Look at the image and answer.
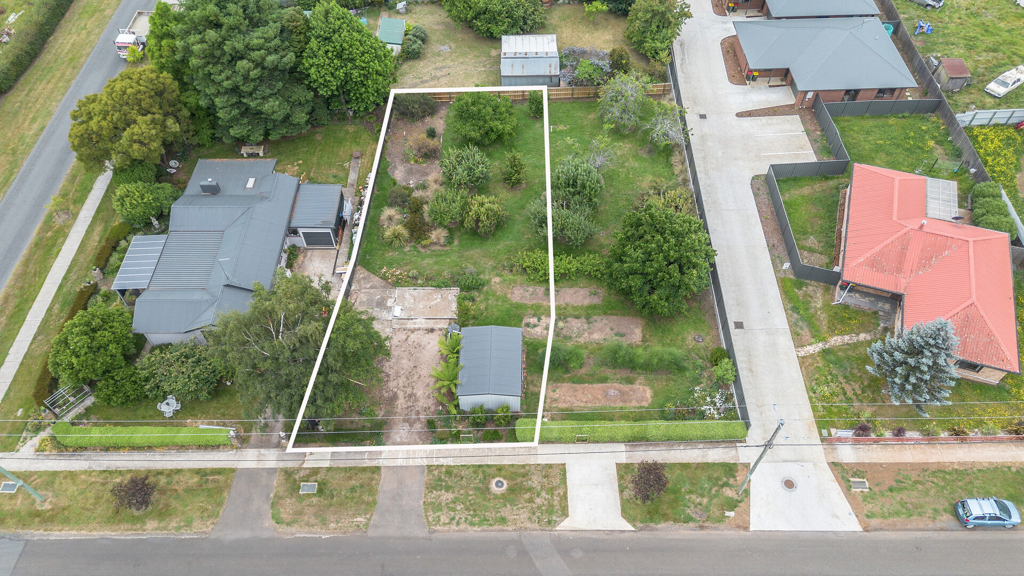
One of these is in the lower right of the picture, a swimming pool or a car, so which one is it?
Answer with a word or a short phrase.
car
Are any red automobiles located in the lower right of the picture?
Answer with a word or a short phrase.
No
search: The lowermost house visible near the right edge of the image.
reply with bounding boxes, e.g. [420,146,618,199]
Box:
[832,162,1022,384]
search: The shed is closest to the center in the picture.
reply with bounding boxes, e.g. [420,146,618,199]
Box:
[457,325,523,411]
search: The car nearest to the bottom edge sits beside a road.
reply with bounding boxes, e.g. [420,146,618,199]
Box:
[950,493,1022,529]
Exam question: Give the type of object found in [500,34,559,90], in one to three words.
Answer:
shed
